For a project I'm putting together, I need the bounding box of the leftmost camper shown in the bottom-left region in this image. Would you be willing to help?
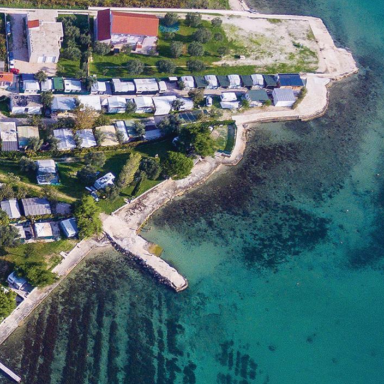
[8,275,27,296]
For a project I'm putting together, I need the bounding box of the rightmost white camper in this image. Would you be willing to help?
[216,93,238,113]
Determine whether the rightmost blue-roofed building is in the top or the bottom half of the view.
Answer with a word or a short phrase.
top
